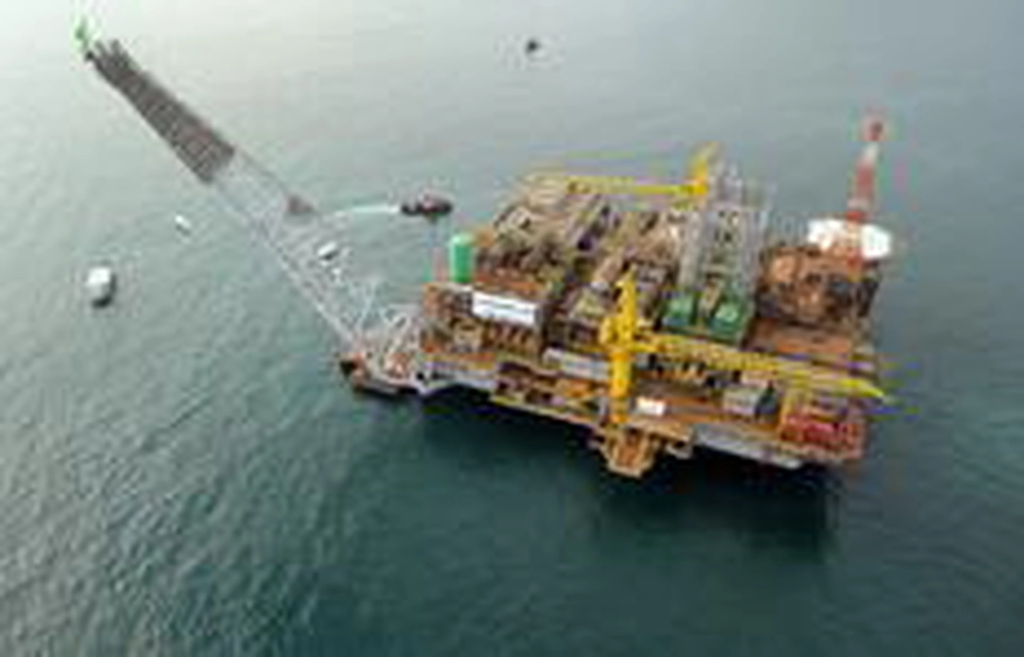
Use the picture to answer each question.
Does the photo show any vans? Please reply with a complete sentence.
No, there appears to be no van in this shot.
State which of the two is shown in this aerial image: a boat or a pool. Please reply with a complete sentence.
I can see a boat in this picture.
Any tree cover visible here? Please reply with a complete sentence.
No, the scene doesn't show any tree cover.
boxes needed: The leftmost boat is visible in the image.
[84,265,124,298]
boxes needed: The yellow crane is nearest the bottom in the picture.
[593,267,887,429]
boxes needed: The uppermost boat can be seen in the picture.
[522,35,543,47]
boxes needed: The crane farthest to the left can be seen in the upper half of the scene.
[537,139,726,242]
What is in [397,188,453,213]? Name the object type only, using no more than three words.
boat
